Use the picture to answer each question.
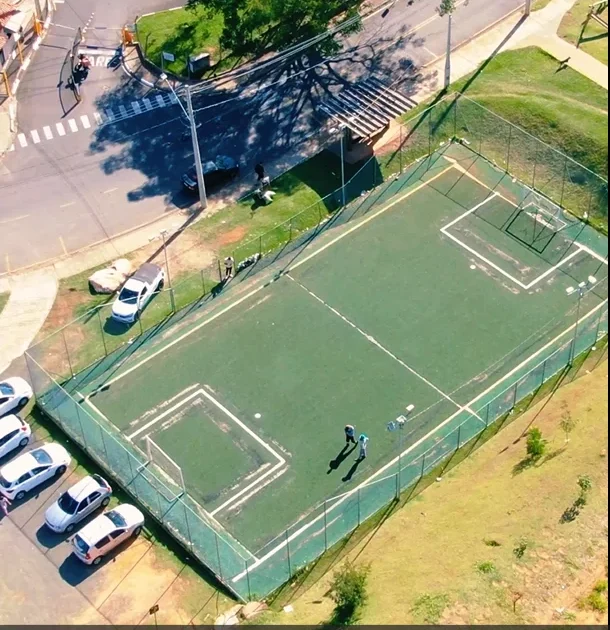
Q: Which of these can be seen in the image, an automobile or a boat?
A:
automobile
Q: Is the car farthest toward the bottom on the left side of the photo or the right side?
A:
left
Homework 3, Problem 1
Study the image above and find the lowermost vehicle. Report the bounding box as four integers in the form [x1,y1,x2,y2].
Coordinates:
[71,503,143,562]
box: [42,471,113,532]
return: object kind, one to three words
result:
car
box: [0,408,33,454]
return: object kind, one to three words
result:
car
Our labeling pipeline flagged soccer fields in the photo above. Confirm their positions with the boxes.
[34,137,610,616]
